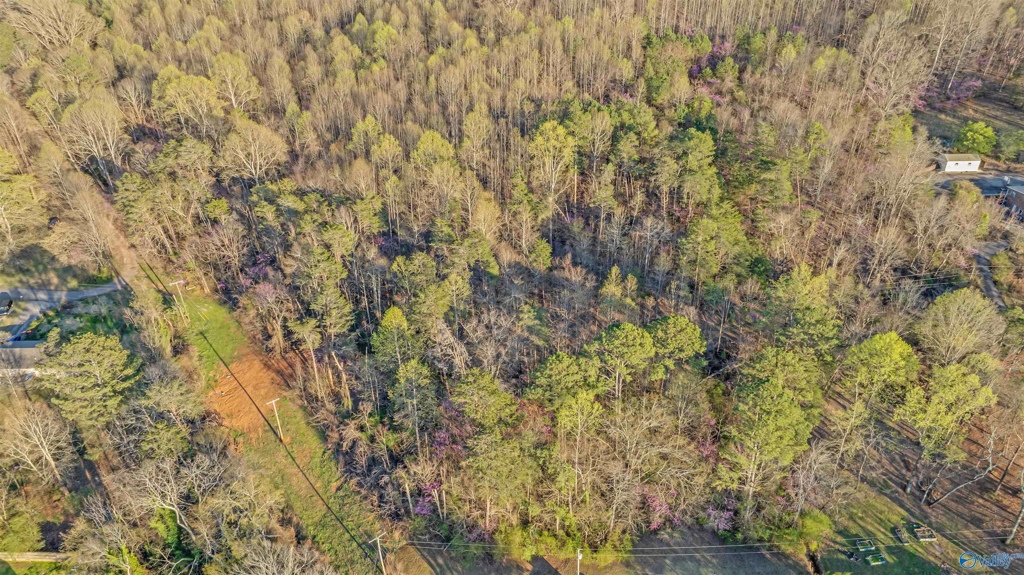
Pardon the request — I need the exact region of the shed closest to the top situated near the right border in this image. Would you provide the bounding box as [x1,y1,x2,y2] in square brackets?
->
[937,154,985,172]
